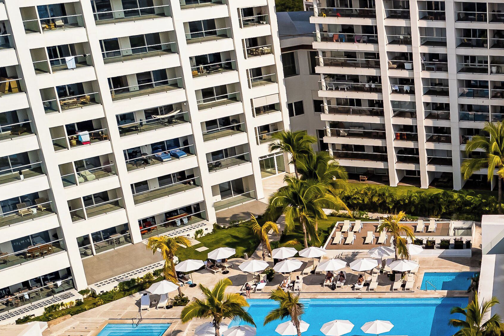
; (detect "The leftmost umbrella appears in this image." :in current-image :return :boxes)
[148,279,181,309]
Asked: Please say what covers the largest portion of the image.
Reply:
buildings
